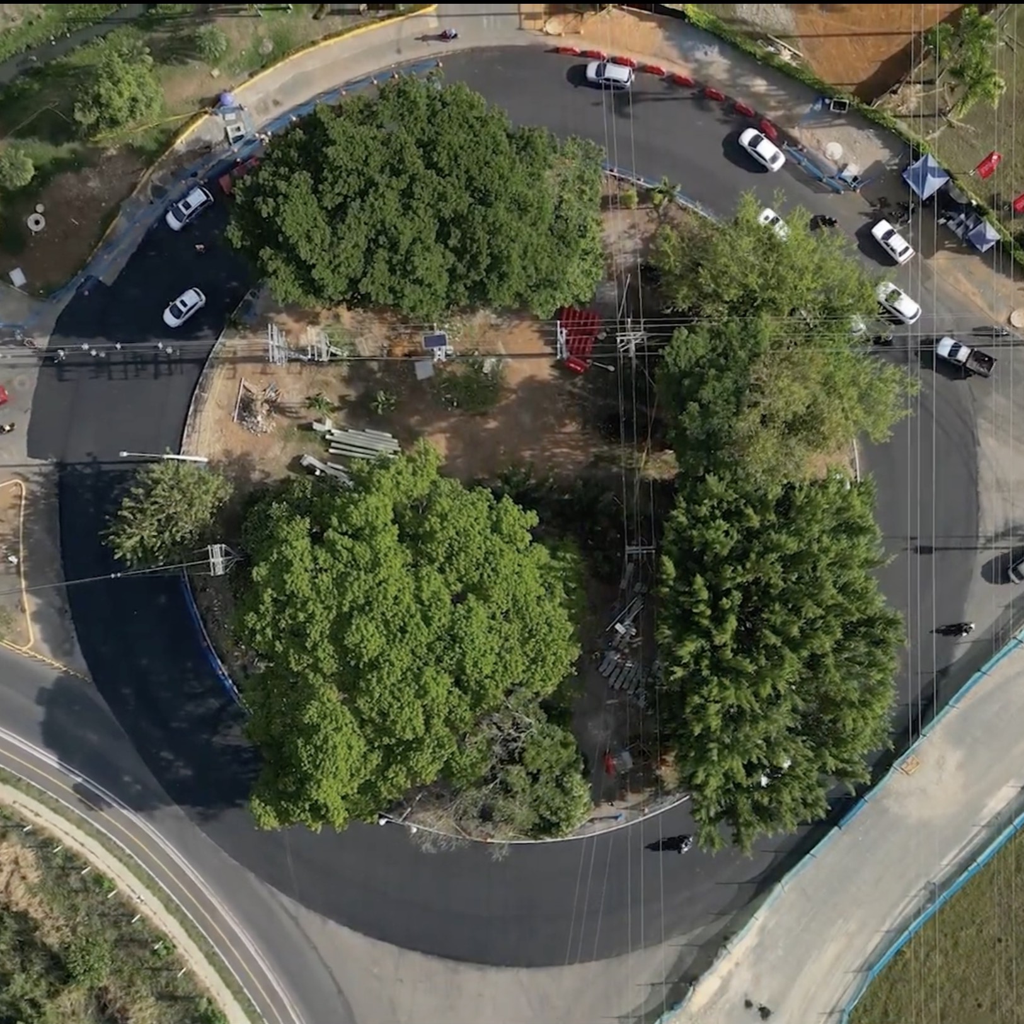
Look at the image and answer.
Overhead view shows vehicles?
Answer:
Yes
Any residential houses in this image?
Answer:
No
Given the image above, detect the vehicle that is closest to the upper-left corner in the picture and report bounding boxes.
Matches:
[163,185,213,227]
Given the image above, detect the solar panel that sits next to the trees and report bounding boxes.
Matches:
[422,332,447,350]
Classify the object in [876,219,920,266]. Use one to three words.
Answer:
car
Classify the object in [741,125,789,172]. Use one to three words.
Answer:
car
